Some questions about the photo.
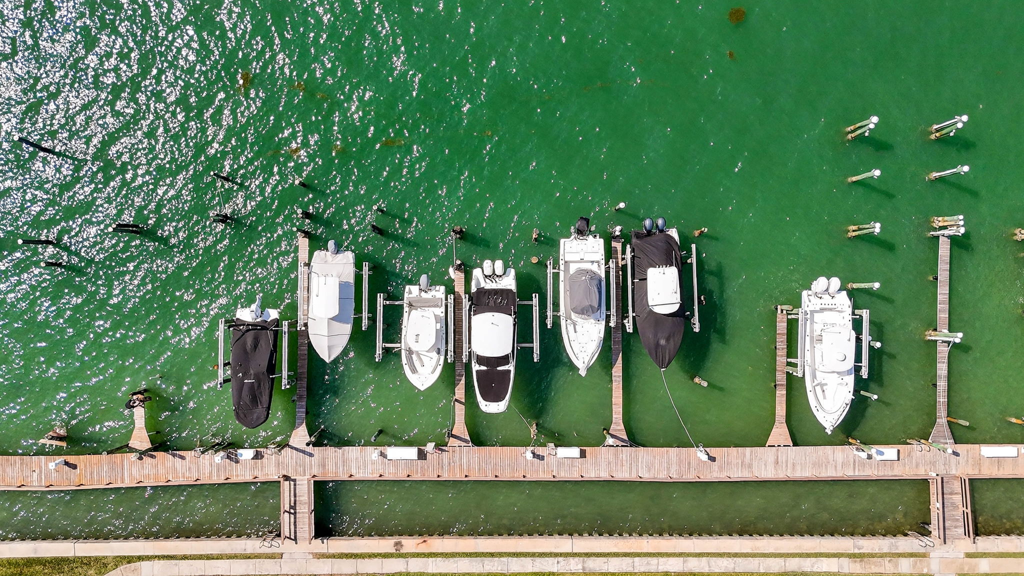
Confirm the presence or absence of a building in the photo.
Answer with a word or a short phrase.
No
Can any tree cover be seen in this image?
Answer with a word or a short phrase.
No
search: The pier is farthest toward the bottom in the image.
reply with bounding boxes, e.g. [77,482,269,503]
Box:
[0,442,1024,490]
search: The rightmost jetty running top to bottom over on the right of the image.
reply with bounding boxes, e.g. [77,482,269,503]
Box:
[927,236,954,445]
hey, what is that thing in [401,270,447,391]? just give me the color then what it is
white boat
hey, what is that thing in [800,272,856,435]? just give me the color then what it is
white boat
